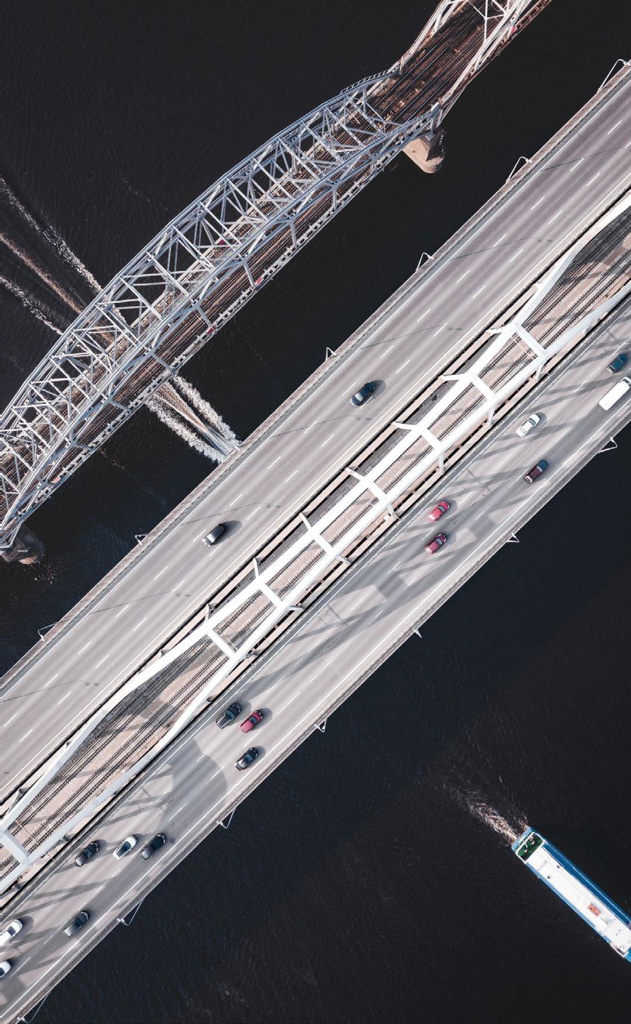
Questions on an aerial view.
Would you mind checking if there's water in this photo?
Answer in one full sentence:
Yes, the picture does contain water.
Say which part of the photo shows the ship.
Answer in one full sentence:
The ship is in the bottom right part of the image.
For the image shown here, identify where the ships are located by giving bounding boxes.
[511,825,631,956]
